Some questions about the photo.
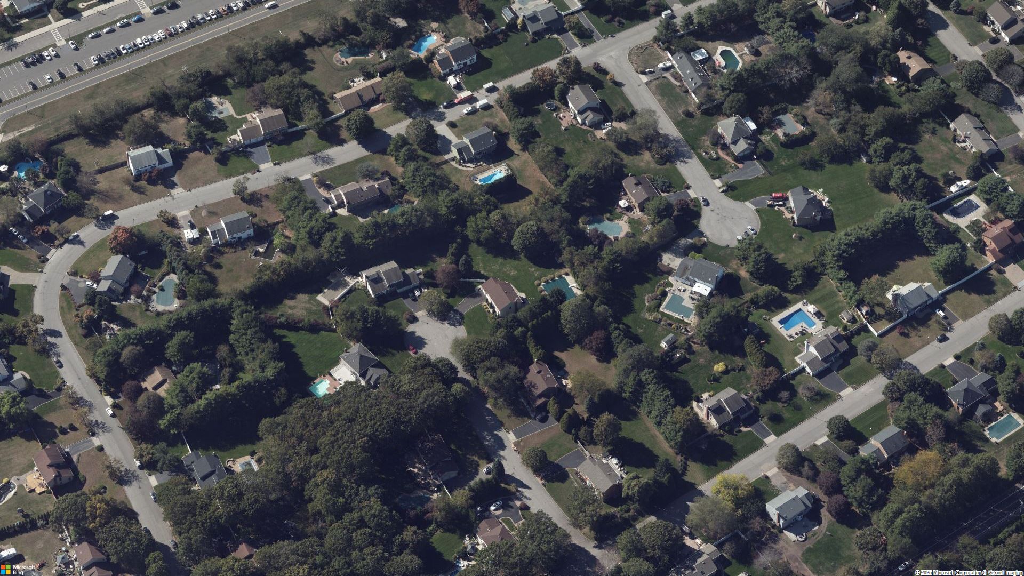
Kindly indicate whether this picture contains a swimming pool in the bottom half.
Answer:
Yes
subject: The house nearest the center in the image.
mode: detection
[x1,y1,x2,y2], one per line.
[480,275,522,318]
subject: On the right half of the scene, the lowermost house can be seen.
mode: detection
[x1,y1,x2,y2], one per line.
[684,542,721,576]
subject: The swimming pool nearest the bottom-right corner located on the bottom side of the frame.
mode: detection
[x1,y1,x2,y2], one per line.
[989,414,1022,440]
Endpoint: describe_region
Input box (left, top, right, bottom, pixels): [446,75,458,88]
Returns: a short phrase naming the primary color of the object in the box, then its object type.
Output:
white vehicle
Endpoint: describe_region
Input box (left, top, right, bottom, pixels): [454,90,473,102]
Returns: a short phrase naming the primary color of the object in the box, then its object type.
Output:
white vehicle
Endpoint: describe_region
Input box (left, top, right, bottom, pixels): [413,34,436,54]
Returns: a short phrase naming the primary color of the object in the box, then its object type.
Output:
blue swimming pool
